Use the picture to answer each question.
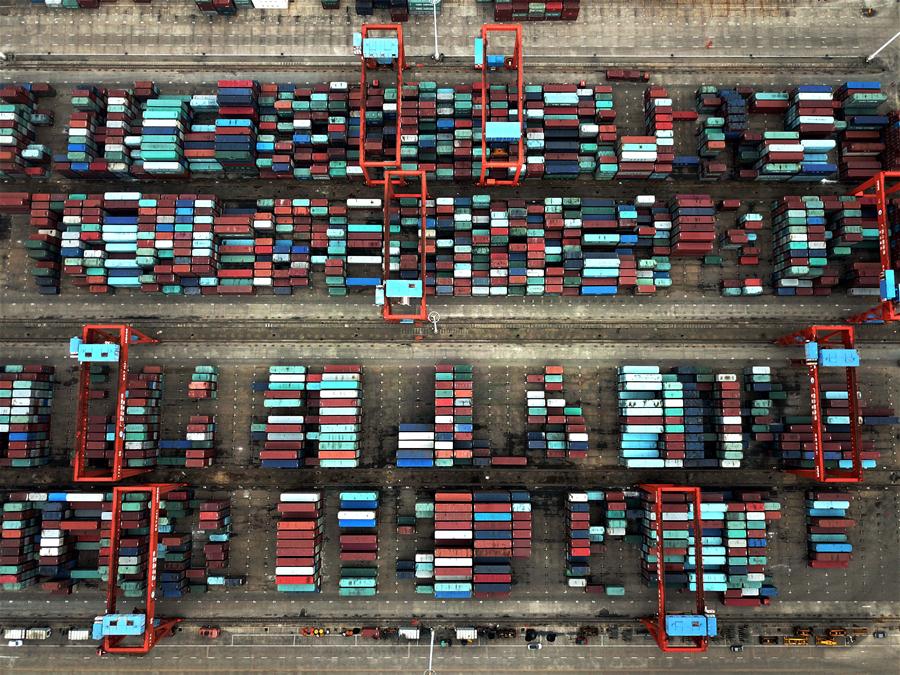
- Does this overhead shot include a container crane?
Yes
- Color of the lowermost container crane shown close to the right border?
red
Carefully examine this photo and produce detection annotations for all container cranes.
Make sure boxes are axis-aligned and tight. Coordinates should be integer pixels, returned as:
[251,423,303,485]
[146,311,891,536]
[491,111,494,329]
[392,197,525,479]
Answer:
[375,172,434,328]
[472,28,526,183]
[90,481,188,648]
[65,327,163,480]
[629,481,718,648]
[773,327,864,480]
[352,28,413,183]
[838,173,900,328]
